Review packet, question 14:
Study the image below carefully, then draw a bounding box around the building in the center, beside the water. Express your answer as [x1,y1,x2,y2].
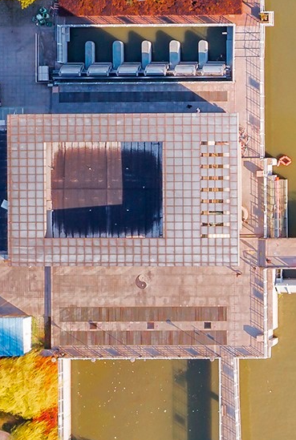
[7,111,241,266]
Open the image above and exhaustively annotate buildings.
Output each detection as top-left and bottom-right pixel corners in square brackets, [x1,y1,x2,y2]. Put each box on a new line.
[7,111,241,266]
[0,316,32,356]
